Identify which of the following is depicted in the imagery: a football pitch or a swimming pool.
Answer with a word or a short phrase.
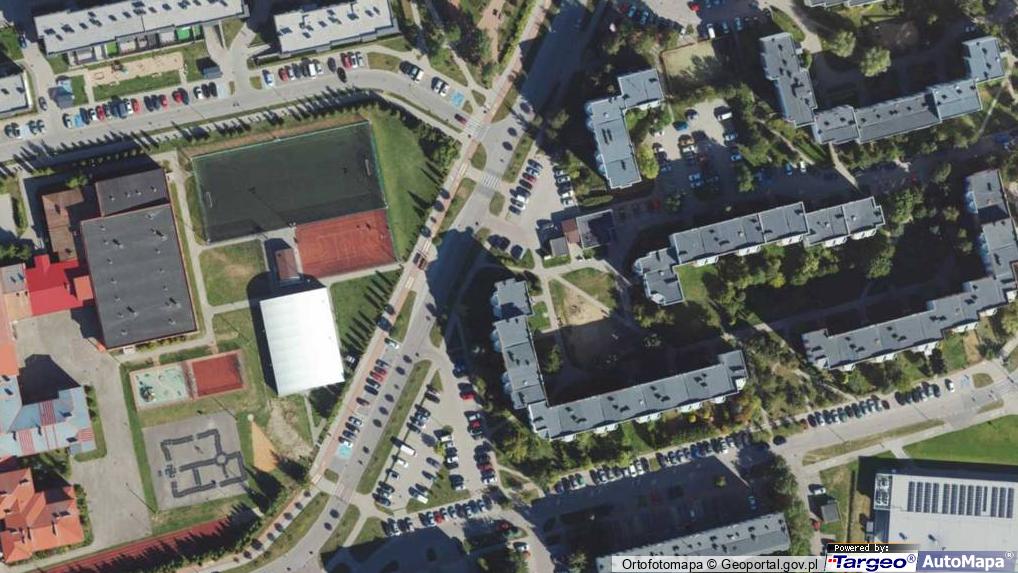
football pitch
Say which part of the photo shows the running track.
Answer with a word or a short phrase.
bottom left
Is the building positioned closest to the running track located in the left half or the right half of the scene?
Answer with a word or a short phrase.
left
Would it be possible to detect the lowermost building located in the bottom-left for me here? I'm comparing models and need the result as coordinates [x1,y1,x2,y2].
[0,469,84,562]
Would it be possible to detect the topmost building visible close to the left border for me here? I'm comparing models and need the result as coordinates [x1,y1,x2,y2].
[34,0,248,65]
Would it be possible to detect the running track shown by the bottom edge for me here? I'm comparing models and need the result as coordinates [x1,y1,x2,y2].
[36,515,238,573]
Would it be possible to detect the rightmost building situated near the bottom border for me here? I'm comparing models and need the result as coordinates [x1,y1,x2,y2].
[886,475,1018,573]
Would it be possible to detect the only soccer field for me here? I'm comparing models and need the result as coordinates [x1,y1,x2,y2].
[192,119,398,260]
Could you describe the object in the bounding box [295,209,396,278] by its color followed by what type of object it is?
red sports court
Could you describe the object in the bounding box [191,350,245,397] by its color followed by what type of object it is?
red sports court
